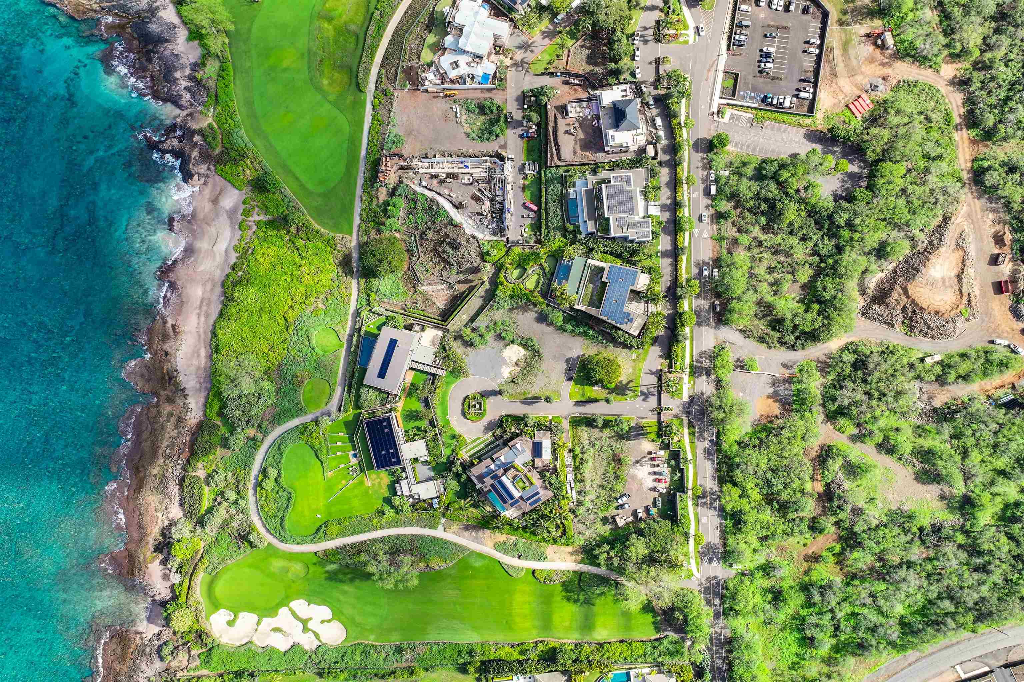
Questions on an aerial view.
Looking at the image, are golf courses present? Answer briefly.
Yes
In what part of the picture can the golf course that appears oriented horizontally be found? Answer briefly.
bottom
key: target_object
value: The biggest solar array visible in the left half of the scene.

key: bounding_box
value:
[365,417,402,470]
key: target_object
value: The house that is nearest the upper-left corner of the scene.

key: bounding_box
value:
[433,0,509,85]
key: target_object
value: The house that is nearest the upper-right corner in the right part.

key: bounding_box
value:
[598,83,647,152]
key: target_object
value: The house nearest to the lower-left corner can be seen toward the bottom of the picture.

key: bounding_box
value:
[363,413,446,500]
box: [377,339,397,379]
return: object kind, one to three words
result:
solar array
